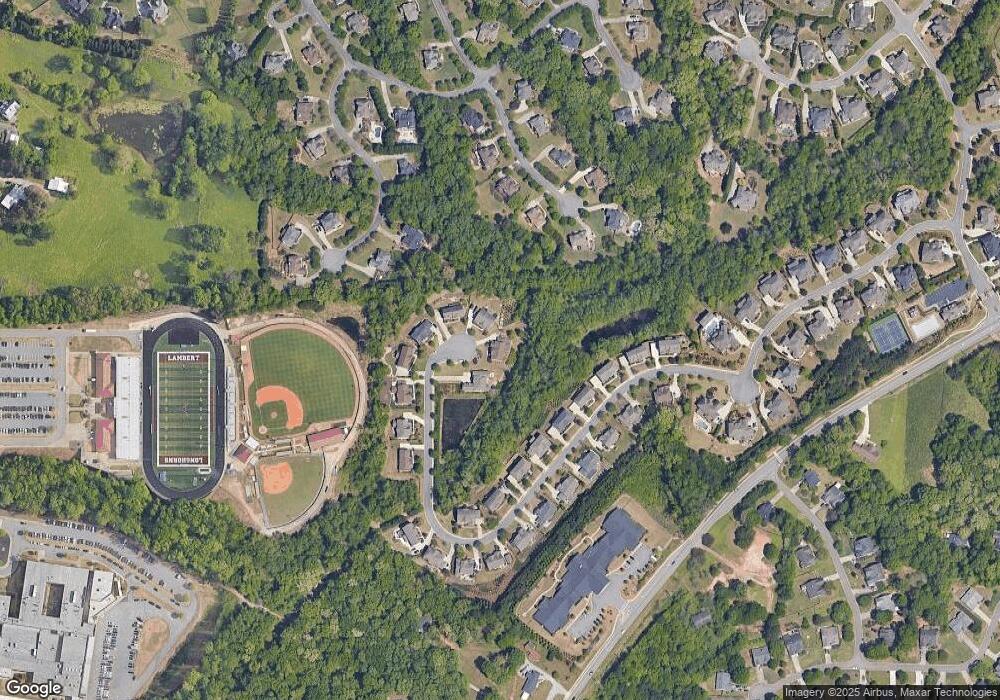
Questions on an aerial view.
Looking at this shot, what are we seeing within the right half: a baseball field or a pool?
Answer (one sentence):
Visible within the right half is a pool.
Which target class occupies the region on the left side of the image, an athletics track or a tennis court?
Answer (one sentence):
There is an athletics track on the left side of the image.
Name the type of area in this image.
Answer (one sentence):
What you see here is a residential area.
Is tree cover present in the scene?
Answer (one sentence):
Yes, some tree cover is visible.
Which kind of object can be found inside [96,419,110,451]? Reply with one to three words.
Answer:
building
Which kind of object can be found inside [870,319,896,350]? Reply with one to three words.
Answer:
tennis court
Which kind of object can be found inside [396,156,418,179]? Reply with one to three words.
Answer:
house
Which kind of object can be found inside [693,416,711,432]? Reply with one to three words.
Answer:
swimming pool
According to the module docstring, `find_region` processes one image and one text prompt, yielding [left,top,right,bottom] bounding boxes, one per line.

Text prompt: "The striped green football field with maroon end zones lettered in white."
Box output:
[153,328,215,489]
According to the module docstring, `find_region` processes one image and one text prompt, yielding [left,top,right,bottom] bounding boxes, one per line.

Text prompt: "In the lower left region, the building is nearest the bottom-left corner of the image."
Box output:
[0,561,114,698]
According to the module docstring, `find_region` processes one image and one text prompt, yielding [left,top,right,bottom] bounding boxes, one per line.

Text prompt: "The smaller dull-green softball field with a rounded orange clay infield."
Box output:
[256,453,325,527]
